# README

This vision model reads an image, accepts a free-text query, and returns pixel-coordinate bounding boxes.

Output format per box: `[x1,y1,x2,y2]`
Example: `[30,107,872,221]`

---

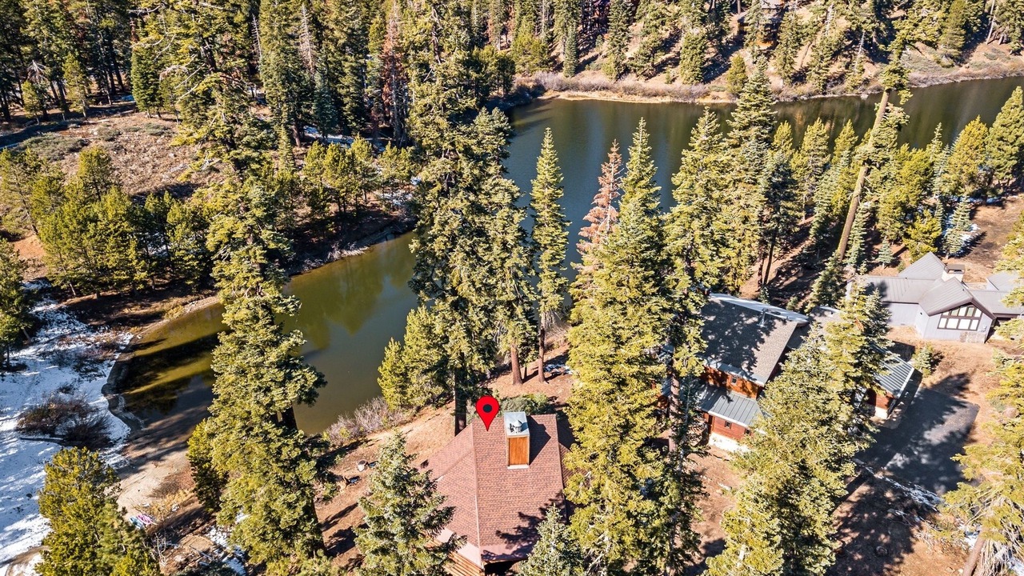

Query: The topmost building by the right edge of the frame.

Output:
[849,248,1024,342]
